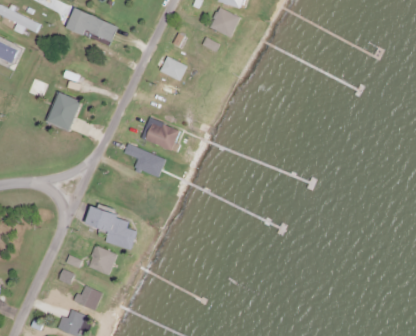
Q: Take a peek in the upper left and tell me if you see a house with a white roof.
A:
Yes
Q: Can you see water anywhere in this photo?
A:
Yes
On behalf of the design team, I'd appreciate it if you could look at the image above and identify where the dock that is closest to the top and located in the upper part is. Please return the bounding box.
[280,6,386,60]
